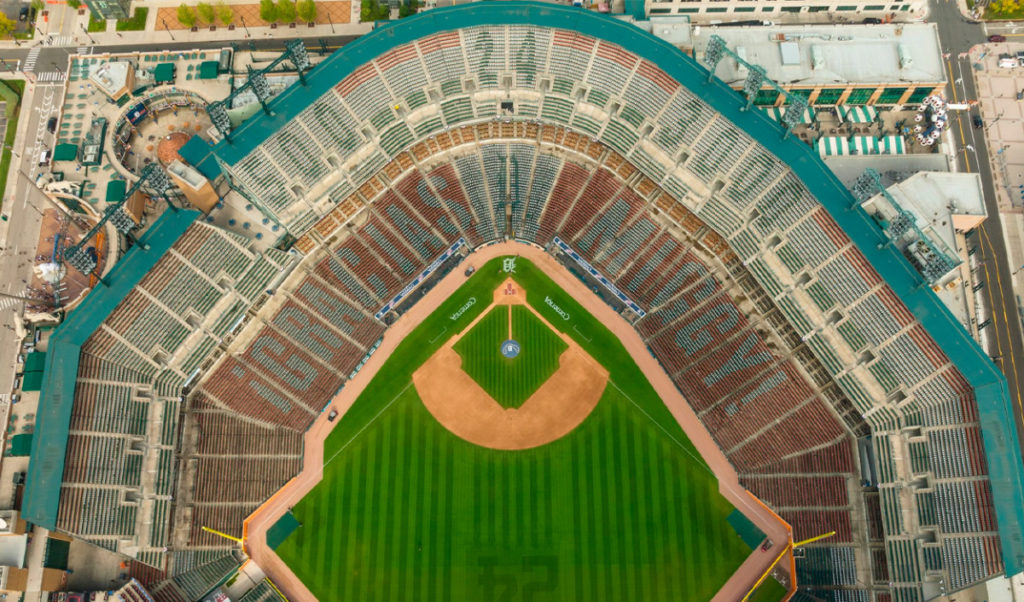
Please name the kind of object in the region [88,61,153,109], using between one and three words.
building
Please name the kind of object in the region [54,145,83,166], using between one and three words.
tent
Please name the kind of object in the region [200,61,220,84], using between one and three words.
tent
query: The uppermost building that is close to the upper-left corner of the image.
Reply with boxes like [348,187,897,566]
[87,0,139,30]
